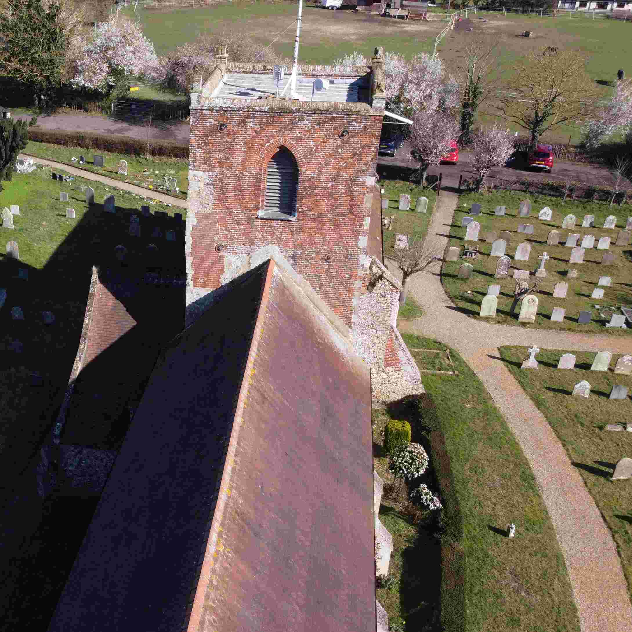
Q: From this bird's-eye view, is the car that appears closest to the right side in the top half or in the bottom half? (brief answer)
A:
top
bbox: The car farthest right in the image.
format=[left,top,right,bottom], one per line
[529,143,561,171]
